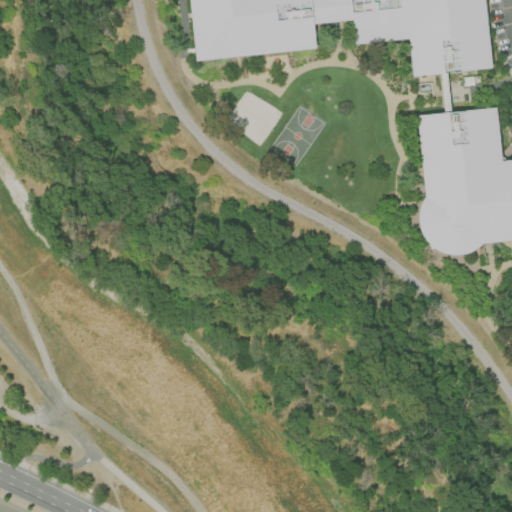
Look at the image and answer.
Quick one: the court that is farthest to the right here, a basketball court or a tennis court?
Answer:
basketball court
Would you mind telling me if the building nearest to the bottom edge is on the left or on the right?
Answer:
right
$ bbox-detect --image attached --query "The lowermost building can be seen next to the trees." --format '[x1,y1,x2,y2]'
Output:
[420,108,512,256]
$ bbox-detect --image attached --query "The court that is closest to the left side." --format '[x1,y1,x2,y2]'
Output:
[226,92,282,146]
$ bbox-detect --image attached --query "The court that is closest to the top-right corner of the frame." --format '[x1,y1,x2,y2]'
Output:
[272,106,326,164]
